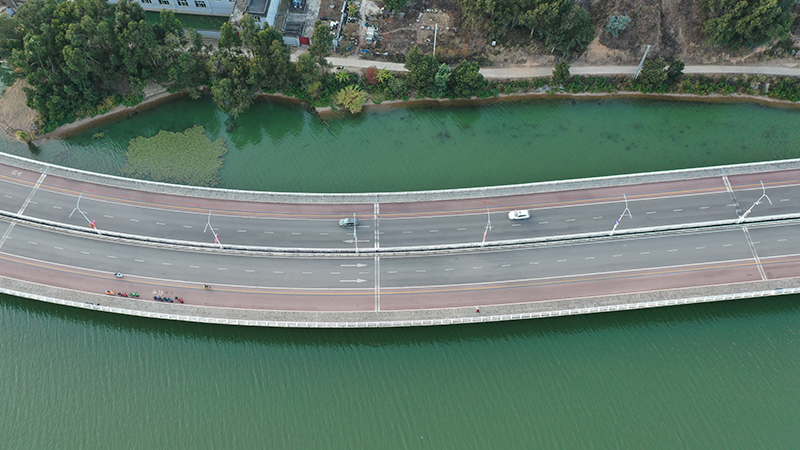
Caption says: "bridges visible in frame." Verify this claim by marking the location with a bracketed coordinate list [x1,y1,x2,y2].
[0,154,800,330]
